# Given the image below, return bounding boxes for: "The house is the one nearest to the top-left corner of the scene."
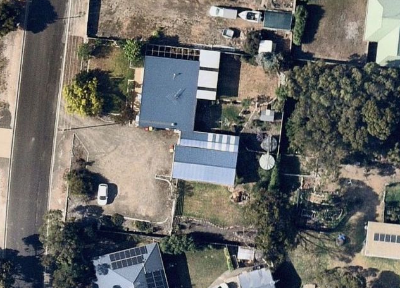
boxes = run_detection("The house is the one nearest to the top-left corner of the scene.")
[138,45,220,133]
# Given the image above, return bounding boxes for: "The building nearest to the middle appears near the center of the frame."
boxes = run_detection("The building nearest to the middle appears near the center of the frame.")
[171,132,239,187]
